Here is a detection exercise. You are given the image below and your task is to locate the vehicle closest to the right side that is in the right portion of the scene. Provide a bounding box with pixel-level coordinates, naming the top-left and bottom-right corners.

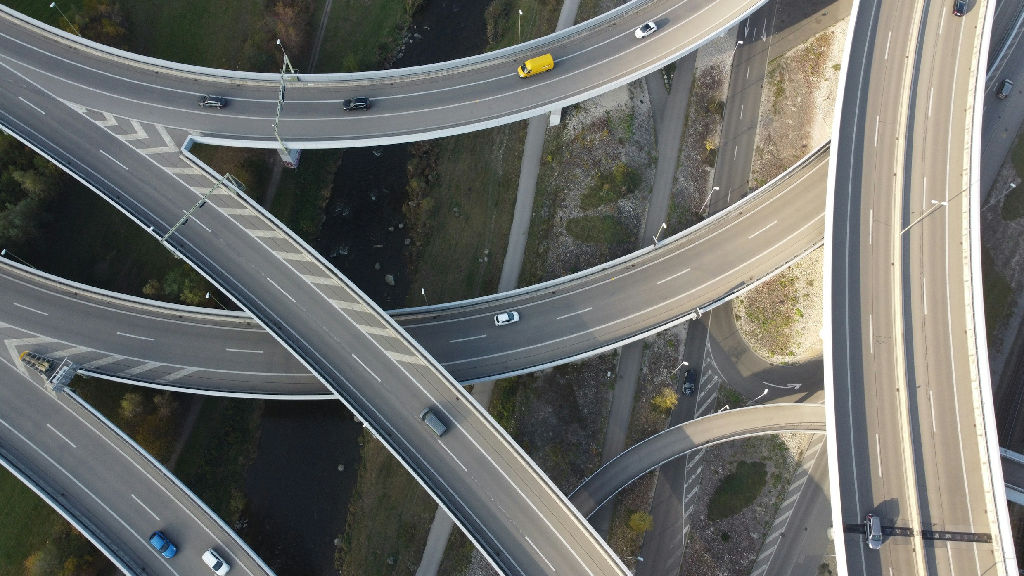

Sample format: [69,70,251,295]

[996,81,1013,99]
